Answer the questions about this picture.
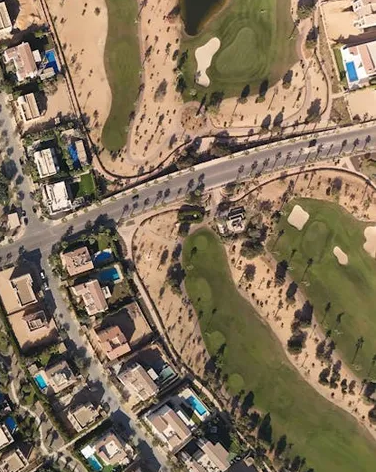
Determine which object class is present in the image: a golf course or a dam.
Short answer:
golf course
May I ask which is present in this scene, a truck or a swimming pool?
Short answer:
swimming pool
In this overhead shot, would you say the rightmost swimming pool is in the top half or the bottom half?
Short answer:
top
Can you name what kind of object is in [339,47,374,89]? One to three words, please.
swimming pool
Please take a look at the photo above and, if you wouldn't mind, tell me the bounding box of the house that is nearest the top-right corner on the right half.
[348,0,376,33]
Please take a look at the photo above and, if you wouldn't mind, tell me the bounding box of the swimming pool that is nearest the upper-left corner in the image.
[43,47,61,71]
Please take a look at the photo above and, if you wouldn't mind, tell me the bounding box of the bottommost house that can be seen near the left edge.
[0,446,32,472]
